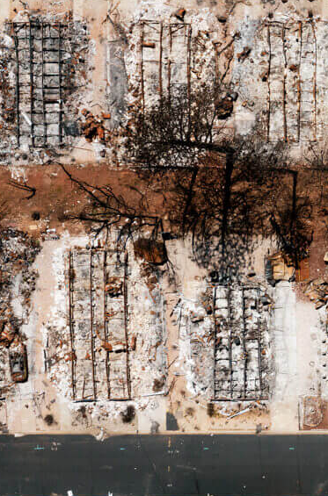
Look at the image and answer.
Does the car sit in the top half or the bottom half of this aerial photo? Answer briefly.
bottom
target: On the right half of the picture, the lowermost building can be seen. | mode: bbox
[209,283,273,410]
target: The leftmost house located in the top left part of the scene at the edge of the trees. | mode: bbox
[5,19,71,148]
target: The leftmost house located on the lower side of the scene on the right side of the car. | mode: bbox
[66,247,139,402]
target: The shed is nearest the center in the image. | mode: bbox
[127,239,165,264]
